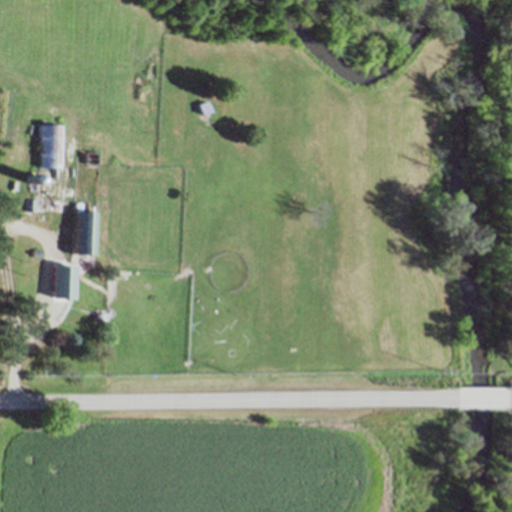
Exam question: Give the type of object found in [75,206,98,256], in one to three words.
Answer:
barn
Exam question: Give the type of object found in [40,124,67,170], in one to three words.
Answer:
barn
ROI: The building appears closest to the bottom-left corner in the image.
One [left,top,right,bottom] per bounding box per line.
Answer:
[54,262,78,300]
